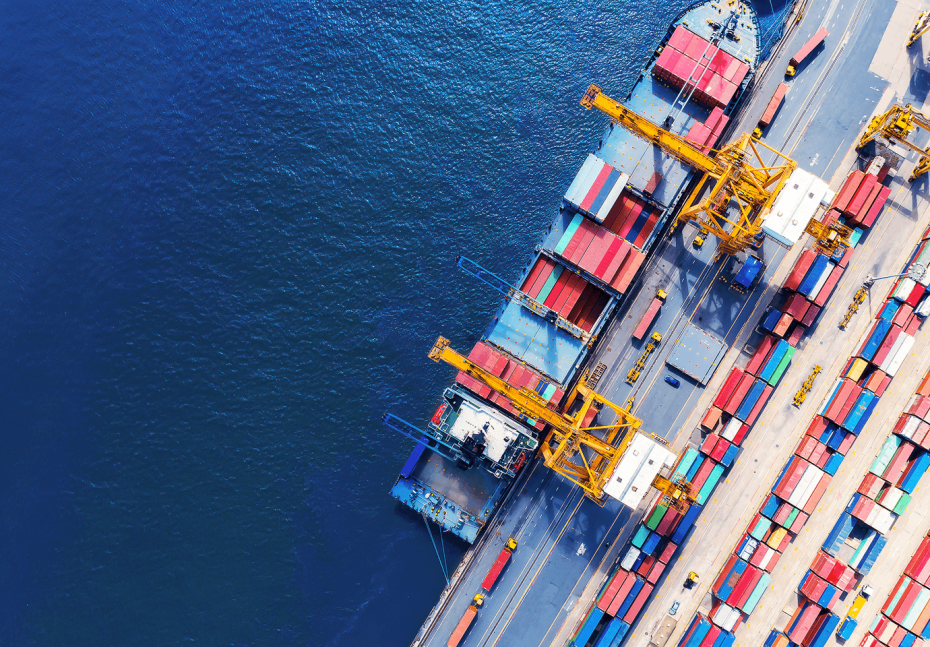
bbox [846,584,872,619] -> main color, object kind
yellow truck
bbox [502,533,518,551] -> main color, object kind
yellow vehicle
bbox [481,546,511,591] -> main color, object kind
red shipping container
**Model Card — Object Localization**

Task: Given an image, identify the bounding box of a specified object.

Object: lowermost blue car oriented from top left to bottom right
[664,375,679,388]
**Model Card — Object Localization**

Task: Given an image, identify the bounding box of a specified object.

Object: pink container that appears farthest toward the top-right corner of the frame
[789,27,829,66]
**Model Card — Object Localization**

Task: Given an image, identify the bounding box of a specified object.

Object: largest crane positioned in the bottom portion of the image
[429,336,708,521]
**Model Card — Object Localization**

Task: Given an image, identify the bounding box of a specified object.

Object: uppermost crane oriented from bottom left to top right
[905,7,930,50]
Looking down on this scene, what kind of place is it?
port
